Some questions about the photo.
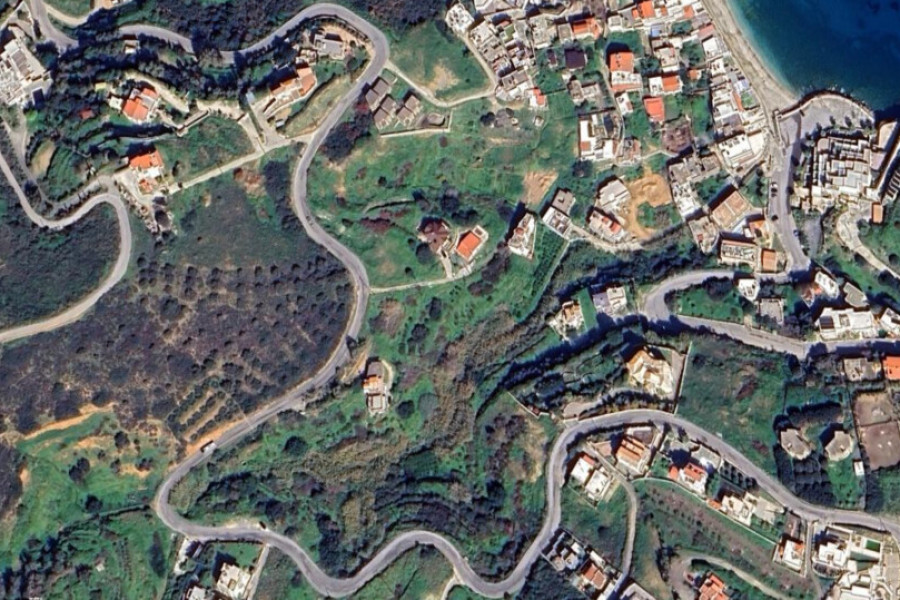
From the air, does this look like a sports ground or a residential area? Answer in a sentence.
This looks like a residential area.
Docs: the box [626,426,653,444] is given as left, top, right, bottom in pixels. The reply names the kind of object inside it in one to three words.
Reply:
shed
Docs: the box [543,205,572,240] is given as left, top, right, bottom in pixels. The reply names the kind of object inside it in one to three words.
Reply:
house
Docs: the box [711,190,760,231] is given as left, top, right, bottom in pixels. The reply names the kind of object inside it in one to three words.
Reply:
building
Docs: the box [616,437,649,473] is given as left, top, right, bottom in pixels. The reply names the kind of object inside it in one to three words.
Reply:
house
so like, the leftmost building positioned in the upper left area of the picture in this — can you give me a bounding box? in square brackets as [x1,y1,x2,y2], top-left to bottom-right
[0,26,54,108]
